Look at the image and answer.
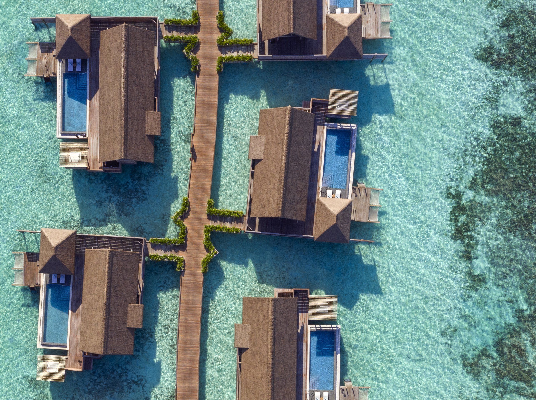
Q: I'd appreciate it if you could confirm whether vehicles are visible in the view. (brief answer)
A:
No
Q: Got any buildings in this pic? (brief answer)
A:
Yes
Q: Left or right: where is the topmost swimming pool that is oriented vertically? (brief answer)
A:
left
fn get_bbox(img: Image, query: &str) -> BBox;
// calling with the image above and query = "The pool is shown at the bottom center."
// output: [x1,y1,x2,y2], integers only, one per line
[307,325,341,400]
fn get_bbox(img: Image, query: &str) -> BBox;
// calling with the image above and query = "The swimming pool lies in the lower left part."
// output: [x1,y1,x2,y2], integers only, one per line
[35,274,72,351]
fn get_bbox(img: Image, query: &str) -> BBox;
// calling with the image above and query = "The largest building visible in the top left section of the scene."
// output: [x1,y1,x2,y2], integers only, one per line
[58,22,162,173]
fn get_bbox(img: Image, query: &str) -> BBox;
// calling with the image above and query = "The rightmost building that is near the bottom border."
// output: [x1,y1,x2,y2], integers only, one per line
[234,287,310,400]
